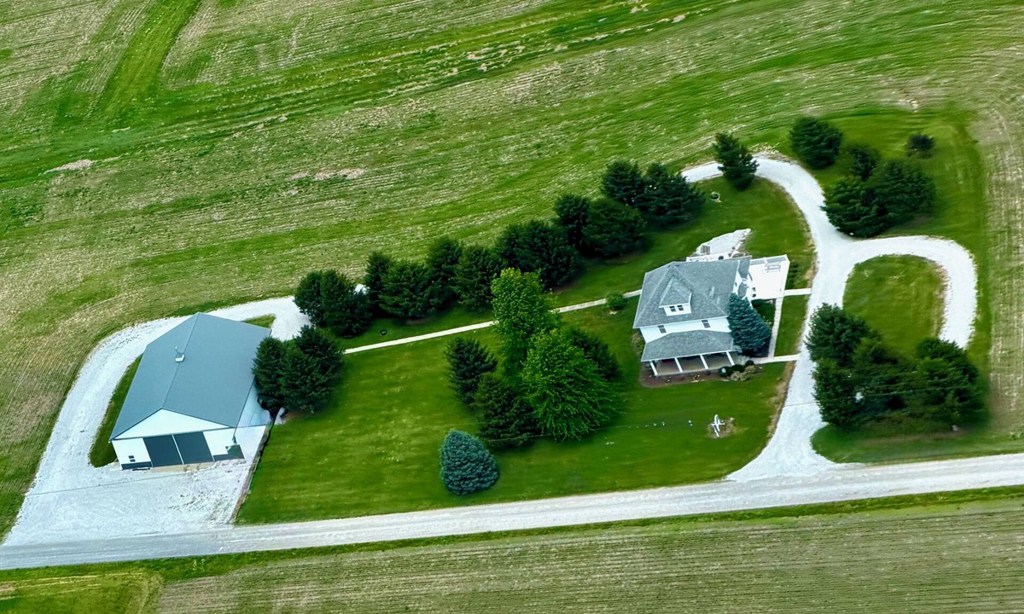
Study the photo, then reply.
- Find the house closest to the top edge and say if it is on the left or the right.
right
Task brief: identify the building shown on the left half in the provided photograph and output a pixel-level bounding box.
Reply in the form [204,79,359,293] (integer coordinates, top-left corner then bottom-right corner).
[107,310,275,469]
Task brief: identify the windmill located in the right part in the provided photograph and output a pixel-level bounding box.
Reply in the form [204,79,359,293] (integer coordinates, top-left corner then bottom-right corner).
[709,414,723,435]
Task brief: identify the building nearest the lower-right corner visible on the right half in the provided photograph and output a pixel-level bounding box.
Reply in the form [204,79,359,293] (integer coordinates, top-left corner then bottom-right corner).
[633,250,791,382]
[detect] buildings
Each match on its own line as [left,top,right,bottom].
[107,310,275,469]
[633,250,791,382]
